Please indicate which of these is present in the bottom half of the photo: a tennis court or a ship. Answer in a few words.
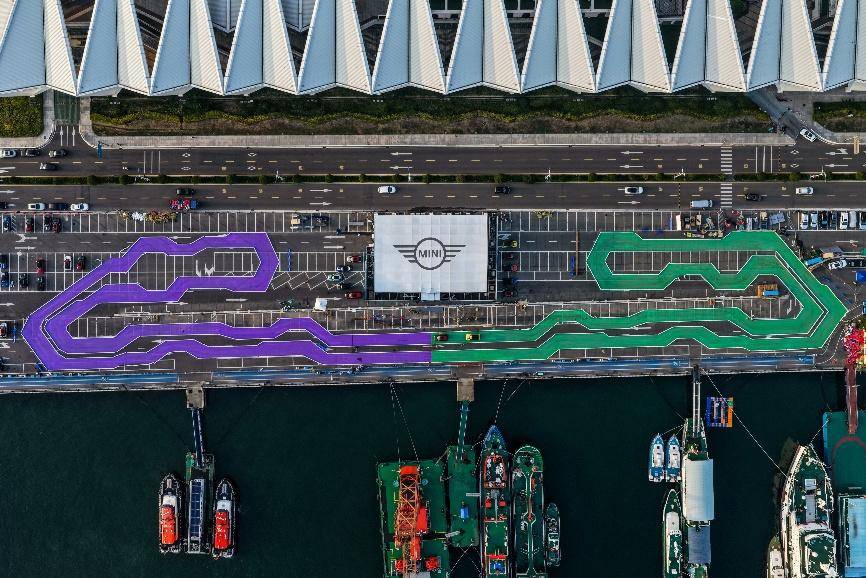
ship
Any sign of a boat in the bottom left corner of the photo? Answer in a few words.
Yes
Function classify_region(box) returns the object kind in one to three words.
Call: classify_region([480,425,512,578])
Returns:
ship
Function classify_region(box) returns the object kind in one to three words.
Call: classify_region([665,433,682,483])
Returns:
boat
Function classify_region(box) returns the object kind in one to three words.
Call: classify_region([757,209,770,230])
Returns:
vehicle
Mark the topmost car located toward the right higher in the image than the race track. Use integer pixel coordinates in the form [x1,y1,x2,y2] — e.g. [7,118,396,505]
[798,127,818,143]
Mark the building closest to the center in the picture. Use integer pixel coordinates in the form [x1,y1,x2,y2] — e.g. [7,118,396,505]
[365,212,497,300]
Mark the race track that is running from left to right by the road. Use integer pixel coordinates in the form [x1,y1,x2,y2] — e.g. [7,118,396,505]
[21,231,847,370]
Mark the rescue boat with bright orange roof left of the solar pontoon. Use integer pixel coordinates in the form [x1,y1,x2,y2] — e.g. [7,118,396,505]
[158,474,184,554]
